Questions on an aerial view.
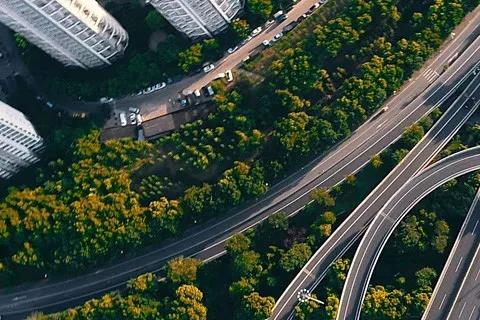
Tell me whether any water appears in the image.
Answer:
No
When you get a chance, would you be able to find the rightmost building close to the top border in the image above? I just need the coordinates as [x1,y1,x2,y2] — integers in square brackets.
[146,0,246,42]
